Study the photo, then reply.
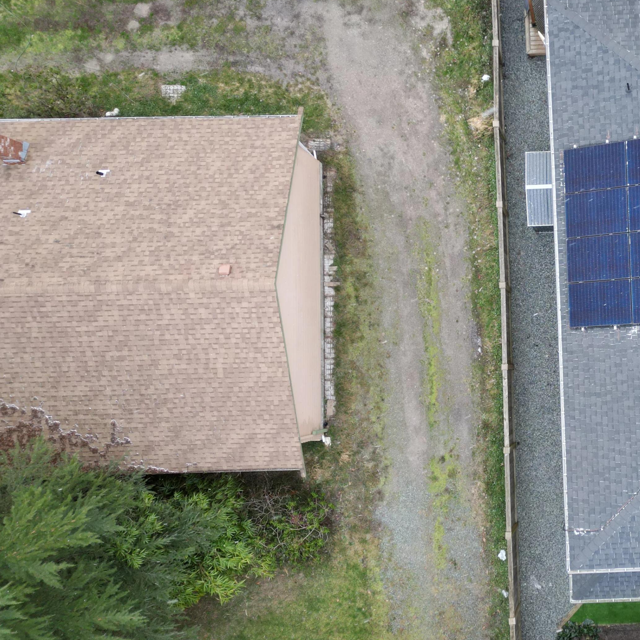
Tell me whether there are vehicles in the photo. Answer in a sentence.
No, the picture doesn't show any vehicle.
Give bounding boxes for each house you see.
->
[0,112,331,481]
[542,0,640,605]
